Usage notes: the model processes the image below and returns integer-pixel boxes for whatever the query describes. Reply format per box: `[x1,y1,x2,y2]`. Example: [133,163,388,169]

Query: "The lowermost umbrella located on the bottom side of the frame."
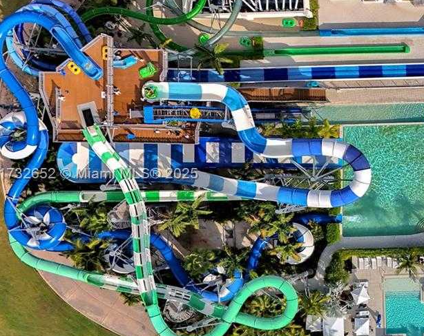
[355,318,371,334]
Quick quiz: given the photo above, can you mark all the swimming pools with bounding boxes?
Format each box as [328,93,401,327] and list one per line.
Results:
[305,103,424,236]
[385,276,424,336]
